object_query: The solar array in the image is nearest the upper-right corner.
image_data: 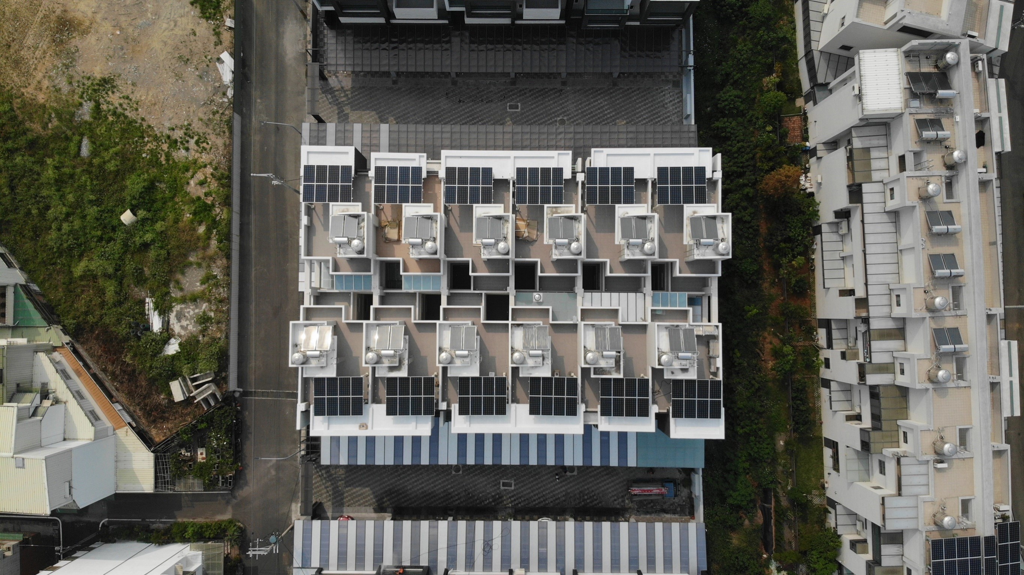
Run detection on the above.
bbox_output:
[652,167,706,208]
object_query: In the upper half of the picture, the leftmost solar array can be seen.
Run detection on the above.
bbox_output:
[303,165,357,206]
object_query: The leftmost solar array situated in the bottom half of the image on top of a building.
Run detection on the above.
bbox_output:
[314,371,369,416]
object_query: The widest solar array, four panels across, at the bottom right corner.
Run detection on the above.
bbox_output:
[919,535,988,575]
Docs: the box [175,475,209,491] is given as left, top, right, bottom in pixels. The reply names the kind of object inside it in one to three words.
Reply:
shed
